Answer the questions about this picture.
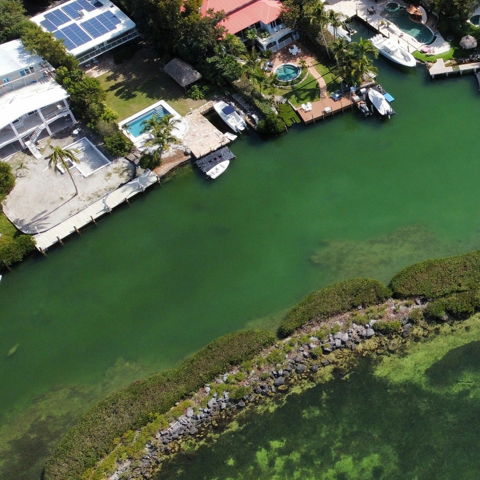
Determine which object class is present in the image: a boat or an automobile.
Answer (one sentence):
Of the two, only a boat appears.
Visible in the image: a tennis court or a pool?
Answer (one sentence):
This aerial view contains a pool.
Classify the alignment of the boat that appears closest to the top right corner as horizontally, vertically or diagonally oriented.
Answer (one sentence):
The boat that appears closest to the top right corner runs diagonally in the image.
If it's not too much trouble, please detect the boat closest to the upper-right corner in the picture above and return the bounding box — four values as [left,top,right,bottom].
[366,30,416,70]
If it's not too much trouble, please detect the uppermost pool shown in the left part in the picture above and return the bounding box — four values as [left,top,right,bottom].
[122,102,178,140]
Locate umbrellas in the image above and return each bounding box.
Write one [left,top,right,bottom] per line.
[457,36,480,52]
[417,39,434,50]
